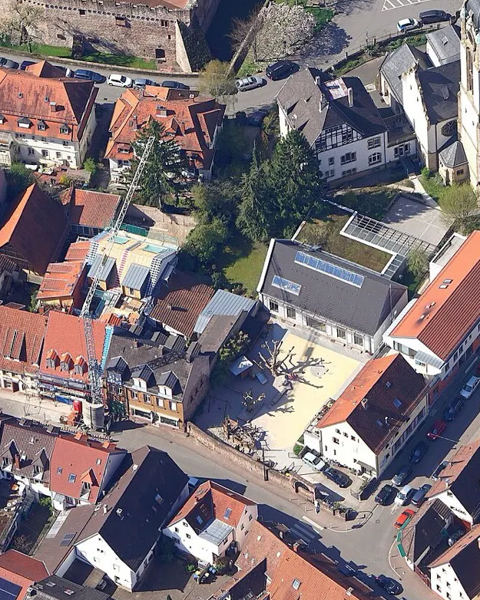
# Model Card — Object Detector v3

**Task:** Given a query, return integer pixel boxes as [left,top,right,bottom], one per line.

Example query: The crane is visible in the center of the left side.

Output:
[70,137,152,432]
